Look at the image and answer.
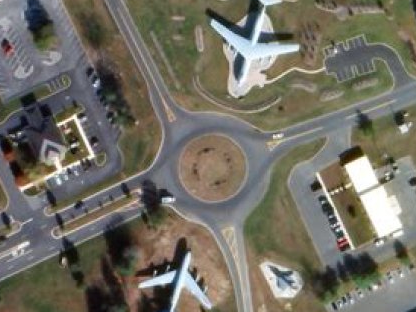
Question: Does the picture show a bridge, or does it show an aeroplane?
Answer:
aeroplane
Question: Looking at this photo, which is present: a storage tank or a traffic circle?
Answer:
traffic circle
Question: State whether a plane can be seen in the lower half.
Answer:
Yes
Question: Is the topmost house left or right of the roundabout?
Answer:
to the left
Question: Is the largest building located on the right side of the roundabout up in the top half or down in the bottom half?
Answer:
bottom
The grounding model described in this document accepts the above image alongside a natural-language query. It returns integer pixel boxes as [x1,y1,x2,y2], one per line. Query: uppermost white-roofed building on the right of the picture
[345,156,379,193]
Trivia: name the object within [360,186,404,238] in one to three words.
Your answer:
building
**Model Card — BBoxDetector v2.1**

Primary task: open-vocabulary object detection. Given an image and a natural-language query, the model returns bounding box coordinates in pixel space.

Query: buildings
[360,186,404,238]
[345,156,379,193]
[22,102,67,165]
